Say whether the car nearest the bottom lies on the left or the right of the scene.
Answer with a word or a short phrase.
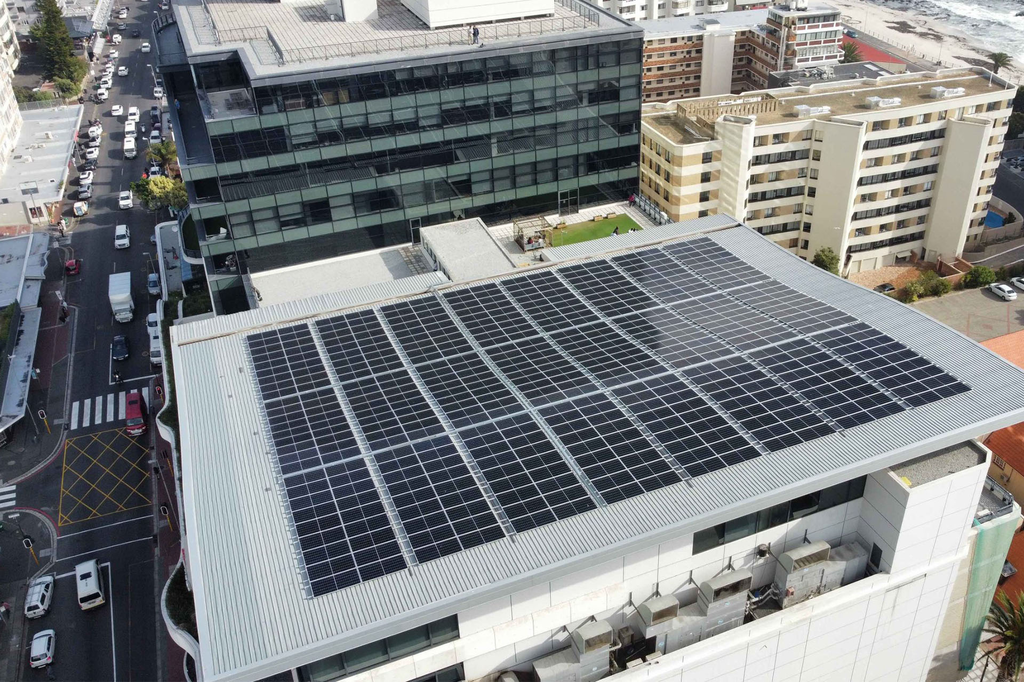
left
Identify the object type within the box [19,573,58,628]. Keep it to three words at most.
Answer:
truck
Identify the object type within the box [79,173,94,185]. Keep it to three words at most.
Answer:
vehicle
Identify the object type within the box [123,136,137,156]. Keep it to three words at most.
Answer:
vehicle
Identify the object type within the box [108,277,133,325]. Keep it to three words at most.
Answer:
truck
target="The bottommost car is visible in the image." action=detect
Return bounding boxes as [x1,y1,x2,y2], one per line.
[26,627,60,674]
